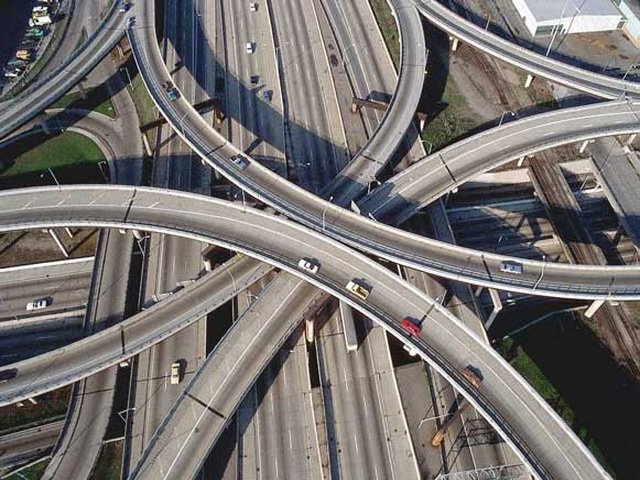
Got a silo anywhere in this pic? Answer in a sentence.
No, the scene contains no silo.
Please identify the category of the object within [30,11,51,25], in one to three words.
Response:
vehicle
